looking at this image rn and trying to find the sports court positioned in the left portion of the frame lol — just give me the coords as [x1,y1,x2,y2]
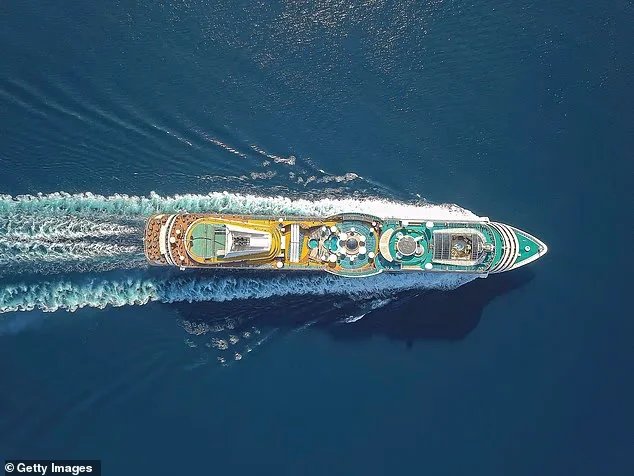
[192,223,226,258]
